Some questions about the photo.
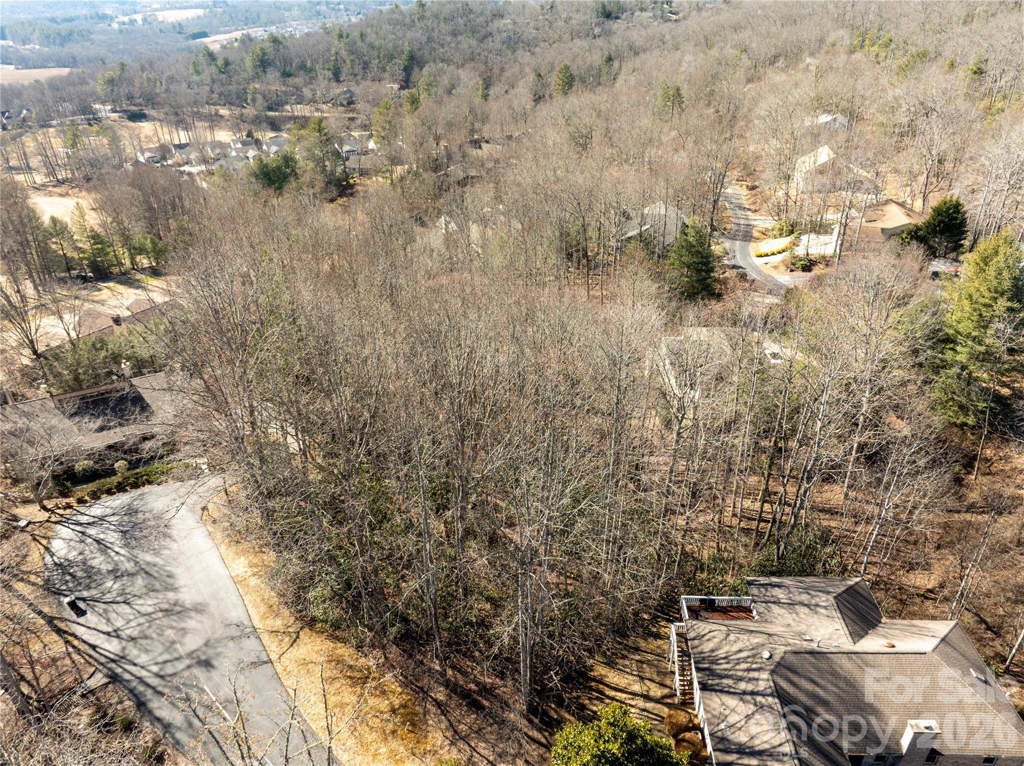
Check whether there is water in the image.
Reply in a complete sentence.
No, the scene doesn't show any water.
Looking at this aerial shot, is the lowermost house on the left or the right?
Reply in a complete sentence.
The lowermost house is on the right side of the image.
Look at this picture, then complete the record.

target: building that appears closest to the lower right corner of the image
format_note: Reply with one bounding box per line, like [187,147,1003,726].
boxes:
[655,575,1024,766]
